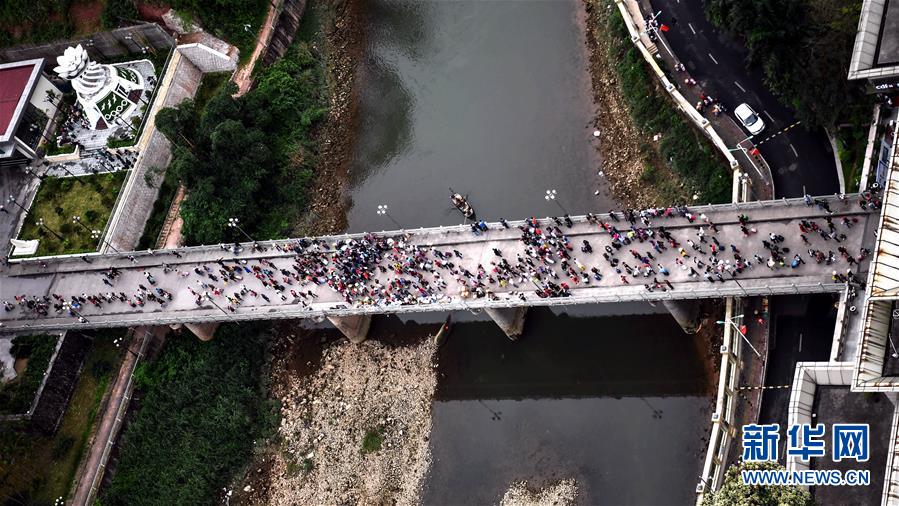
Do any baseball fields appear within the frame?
No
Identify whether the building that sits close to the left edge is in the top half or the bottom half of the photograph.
top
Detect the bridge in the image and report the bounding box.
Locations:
[0,195,878,342]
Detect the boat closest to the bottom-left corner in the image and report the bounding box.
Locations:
[430,311,454,349]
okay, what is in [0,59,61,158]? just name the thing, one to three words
building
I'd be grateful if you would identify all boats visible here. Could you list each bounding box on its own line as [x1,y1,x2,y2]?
[444,188,481,220]
[430,311,454,349]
